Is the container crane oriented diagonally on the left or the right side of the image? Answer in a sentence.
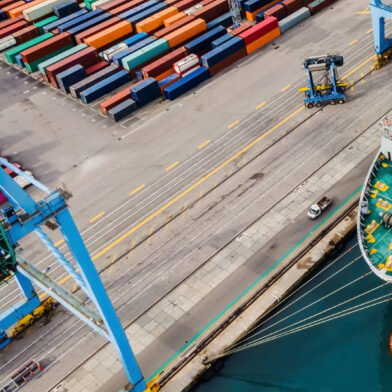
The container crane oriented diagonally appears in the left half of the scene.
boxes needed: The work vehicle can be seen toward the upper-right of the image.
[297,45,348,105]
